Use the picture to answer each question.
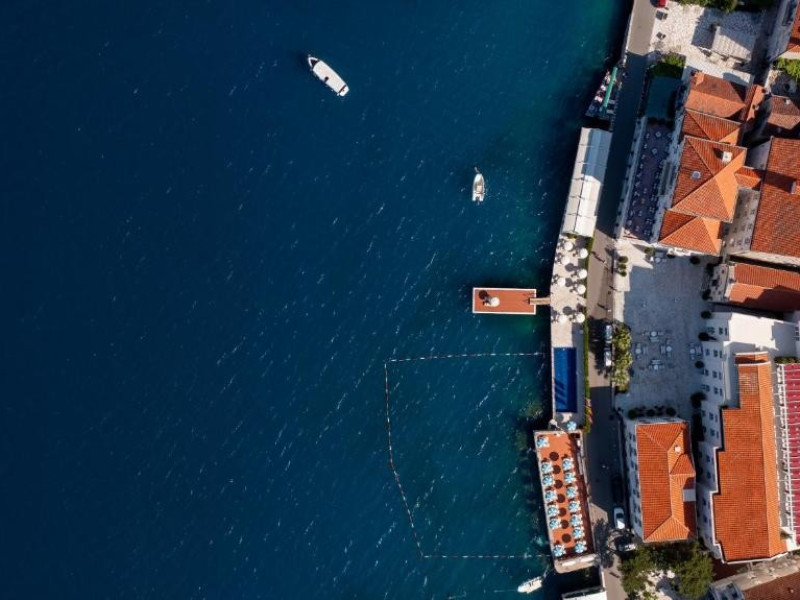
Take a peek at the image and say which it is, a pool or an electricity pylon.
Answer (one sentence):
This aerial view contains a pool.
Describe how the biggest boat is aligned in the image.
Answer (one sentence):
The biggest boat has been laid out on a diagonal relative to the frame.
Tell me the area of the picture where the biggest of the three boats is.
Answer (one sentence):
The biggest of the three boats is located in the top region of the scene.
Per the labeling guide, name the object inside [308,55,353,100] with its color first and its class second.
white boat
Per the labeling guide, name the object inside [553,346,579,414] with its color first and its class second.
blue swimming pool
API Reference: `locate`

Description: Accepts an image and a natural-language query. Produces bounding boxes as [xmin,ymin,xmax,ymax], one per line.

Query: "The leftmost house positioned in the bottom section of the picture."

[627,420,697,542]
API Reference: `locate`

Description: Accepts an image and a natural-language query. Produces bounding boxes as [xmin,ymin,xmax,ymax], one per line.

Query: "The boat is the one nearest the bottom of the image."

[517,573,544,591]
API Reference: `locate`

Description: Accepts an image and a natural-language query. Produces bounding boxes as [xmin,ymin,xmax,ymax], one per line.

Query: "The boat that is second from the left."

[473,166,485,203]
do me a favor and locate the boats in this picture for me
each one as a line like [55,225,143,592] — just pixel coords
[517,573,544,591]
[473,166,485,203]
[308,55,353,100]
